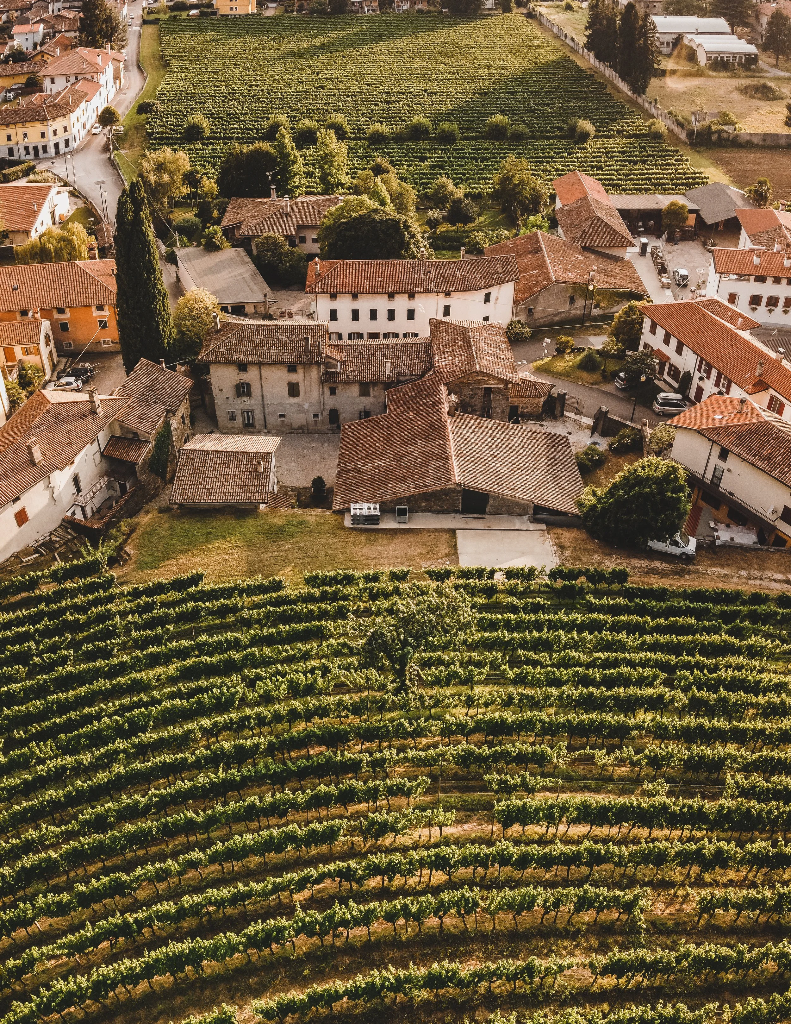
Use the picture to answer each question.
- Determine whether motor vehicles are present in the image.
Yes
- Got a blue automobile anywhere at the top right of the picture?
No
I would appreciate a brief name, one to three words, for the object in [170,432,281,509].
house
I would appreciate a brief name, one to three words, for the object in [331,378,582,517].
barn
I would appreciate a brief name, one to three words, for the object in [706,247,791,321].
house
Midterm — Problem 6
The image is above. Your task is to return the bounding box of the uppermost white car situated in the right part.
[673,268,691,285]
